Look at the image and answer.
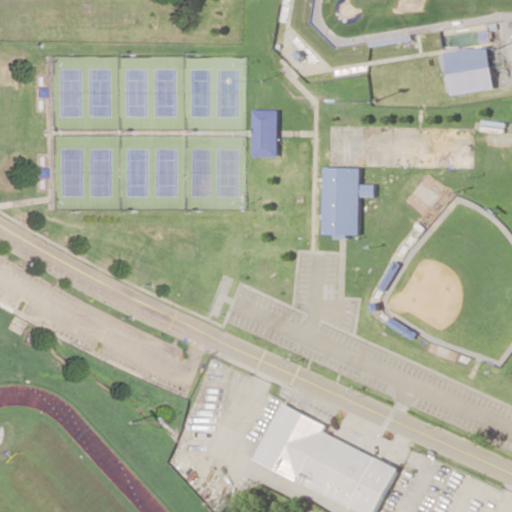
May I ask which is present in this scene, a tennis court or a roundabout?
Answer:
tennis court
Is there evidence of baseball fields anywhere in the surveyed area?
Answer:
Yes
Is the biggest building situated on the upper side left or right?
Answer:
right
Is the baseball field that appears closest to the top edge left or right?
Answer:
right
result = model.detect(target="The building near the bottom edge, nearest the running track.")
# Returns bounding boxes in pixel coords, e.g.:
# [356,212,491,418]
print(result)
[256,404,398,512]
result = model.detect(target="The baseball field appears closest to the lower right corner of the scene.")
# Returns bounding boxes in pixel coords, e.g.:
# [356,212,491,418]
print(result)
[384,197,512,364]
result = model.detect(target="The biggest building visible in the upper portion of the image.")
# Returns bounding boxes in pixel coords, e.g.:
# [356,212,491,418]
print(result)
[318,167,374,240]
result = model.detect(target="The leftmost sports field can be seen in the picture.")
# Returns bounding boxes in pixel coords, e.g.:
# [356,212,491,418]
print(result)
[0,405,138,512]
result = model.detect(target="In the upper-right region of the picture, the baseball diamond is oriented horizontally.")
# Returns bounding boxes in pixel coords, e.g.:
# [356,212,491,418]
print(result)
[311,0,512,48]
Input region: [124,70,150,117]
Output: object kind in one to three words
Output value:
tennis court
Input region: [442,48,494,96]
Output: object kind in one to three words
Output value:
barn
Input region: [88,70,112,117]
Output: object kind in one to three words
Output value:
tennis court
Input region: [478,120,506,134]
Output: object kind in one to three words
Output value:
shed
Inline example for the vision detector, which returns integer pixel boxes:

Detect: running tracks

[0,384,167,512]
